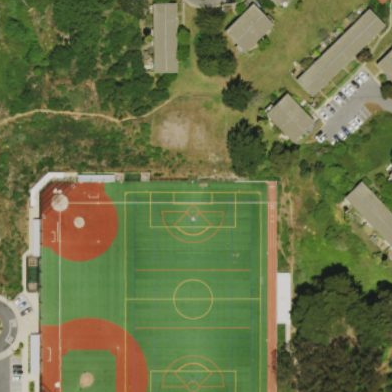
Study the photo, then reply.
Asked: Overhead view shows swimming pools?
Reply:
No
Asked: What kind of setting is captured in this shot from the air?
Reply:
sports ground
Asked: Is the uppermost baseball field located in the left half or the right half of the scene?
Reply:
left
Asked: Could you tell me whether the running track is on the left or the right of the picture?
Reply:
right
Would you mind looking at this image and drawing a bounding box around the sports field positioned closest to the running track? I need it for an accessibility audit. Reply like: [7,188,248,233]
[40,182,268,392]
